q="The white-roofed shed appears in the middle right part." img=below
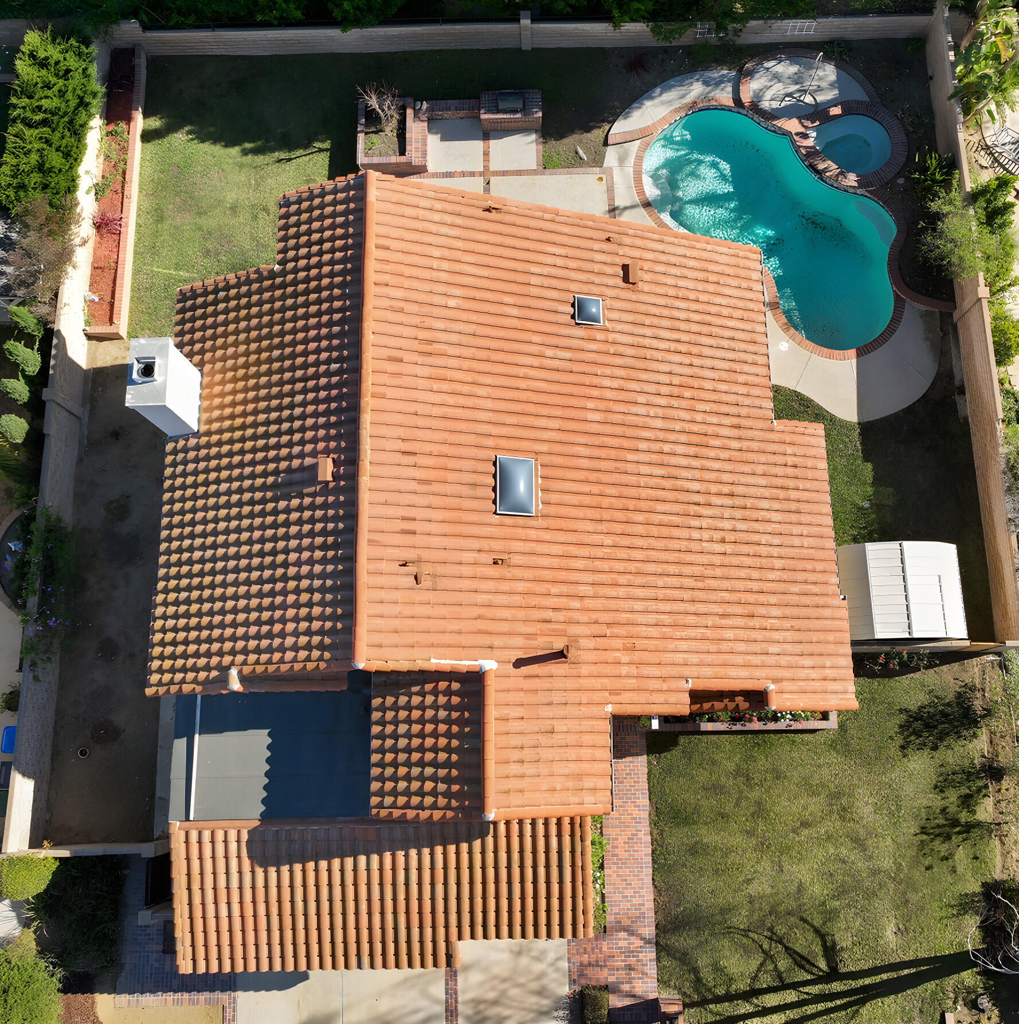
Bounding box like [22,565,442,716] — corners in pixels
[843,543,969,639]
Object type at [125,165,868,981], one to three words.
house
